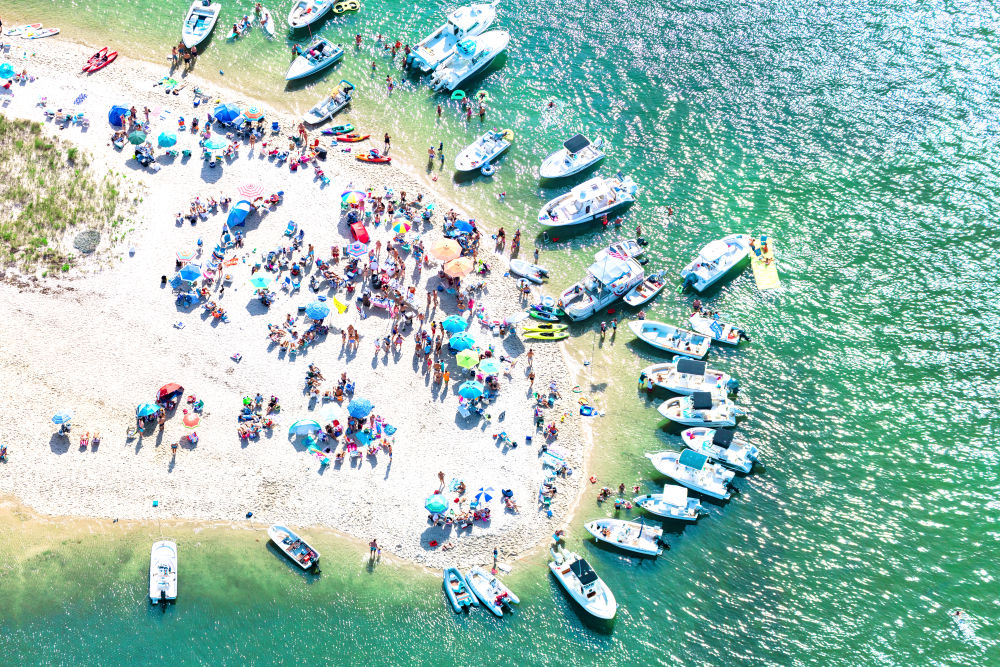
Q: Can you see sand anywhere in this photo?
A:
Yes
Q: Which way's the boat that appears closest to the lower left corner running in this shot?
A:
up and down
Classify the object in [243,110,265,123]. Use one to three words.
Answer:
umbrella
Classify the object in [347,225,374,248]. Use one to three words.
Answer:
tent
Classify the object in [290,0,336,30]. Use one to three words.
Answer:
boat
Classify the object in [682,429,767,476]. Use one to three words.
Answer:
boat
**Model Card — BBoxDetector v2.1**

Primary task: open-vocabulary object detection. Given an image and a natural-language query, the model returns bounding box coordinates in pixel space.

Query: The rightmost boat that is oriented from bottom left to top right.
[680,238,750,300]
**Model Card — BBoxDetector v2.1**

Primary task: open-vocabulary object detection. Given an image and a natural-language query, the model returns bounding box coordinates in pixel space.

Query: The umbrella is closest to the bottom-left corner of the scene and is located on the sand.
[53,412,73,427]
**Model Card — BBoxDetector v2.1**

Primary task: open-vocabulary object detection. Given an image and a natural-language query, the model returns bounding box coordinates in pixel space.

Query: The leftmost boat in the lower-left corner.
[148,540,179,615]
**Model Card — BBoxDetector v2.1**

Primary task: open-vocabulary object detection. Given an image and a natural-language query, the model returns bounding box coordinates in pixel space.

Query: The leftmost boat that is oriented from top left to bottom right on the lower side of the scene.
[267,522,324,577]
